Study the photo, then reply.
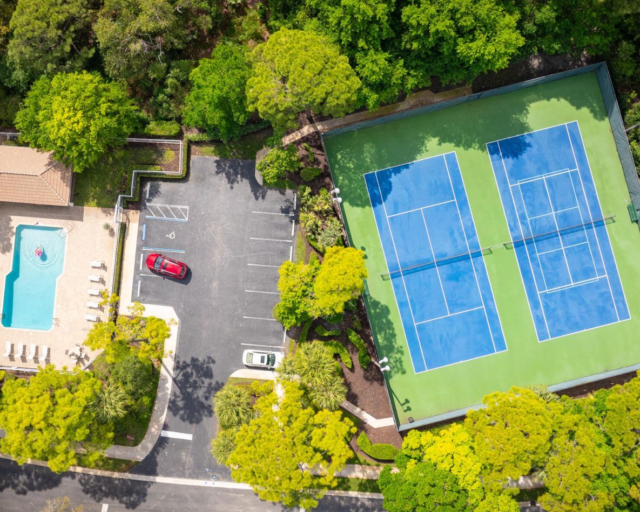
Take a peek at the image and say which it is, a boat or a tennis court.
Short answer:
tennis court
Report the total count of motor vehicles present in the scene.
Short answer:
2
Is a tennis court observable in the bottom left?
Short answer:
No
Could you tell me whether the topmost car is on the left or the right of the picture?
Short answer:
left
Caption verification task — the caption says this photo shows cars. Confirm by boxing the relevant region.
[147,255,187,279]
[242,349,286,369]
